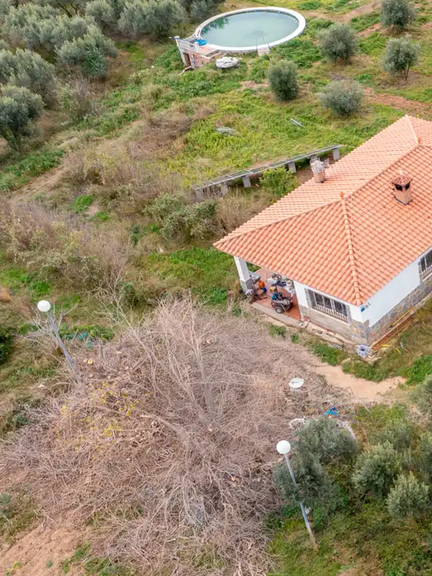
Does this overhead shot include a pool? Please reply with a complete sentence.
Yes, this view includes a pool.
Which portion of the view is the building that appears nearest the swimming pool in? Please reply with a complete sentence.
The building that appears nearest the swimming pool sits in the top section of the image.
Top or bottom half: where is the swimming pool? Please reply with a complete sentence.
It is in the top half that the swimming pool appears.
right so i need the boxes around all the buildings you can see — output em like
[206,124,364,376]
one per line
[213,113,432,348]
[159,24,223,65]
